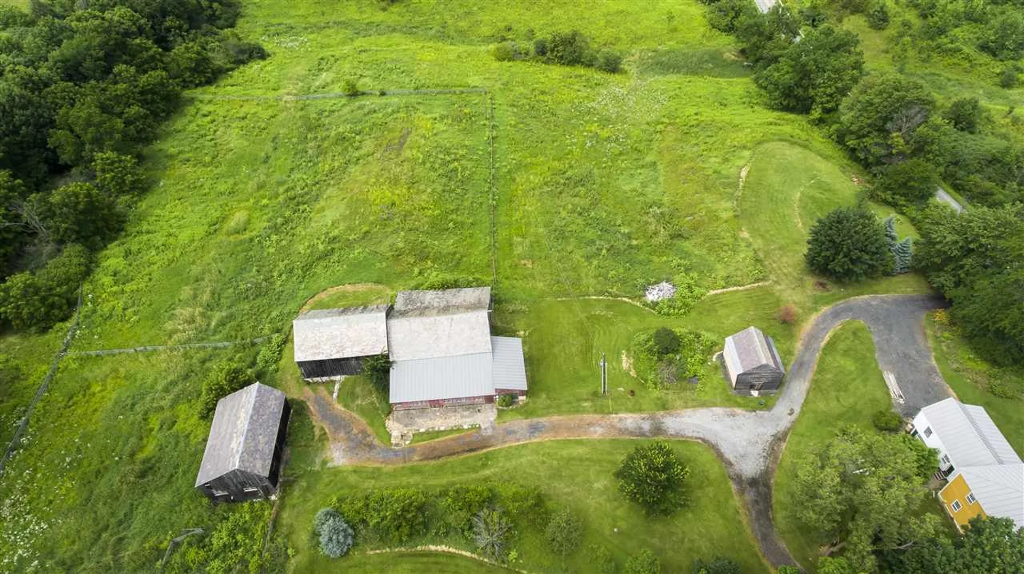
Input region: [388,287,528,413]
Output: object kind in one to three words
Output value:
barn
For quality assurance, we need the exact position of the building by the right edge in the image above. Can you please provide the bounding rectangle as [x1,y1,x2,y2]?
[911,395,1024,544]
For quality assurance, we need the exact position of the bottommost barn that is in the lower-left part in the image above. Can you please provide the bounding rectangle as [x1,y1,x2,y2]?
[193,382,289,495]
